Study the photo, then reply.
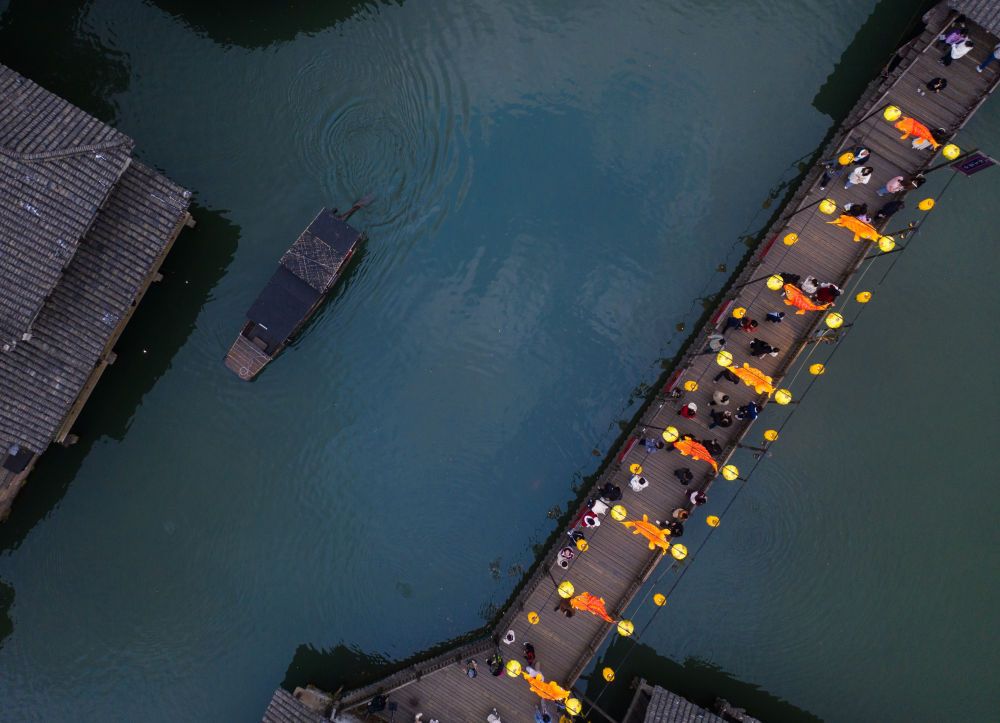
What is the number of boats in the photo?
one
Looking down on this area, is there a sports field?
No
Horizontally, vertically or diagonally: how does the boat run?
diagonally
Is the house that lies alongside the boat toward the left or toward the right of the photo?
left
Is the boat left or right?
left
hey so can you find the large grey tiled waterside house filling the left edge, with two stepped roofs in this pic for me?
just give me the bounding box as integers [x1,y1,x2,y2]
[0,58,202,456]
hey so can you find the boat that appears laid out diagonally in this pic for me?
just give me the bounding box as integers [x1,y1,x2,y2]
[224,194,373,379]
